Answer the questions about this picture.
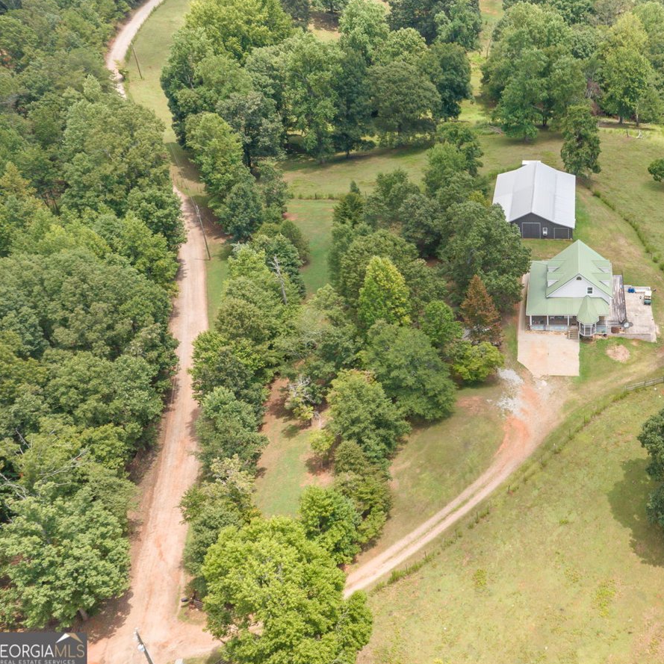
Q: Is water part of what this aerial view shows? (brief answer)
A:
No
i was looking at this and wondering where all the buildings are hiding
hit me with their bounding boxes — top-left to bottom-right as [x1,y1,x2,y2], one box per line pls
[490,159,575,239]
[524,238,611,334]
